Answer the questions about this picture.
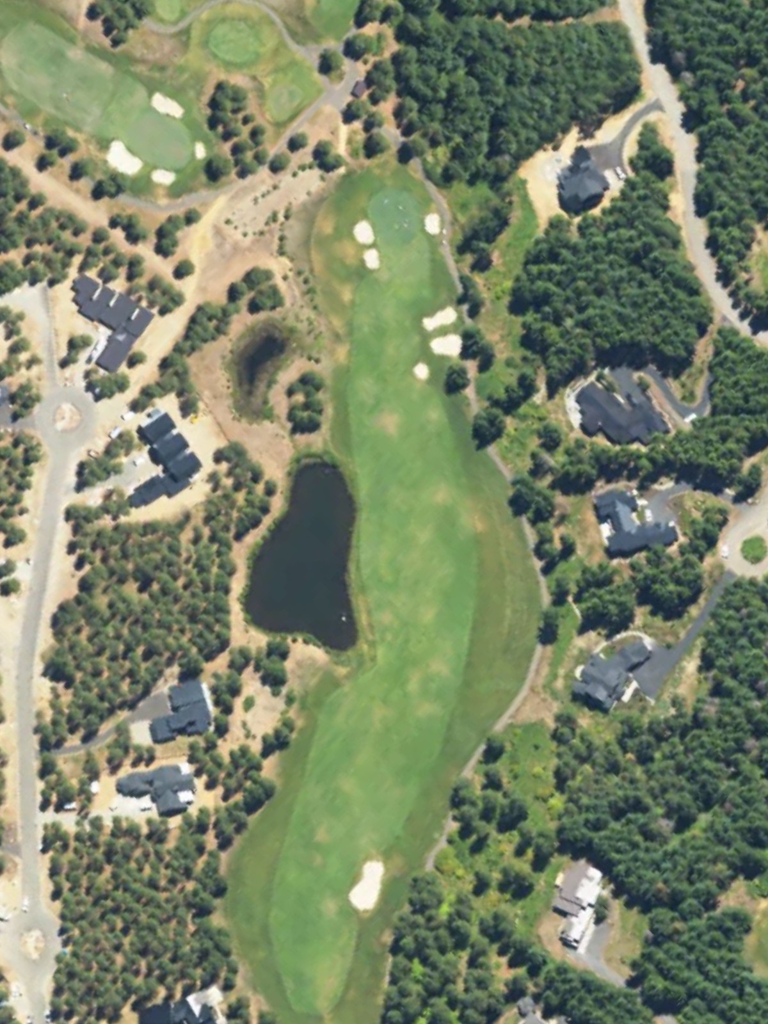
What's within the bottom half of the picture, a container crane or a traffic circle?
traffic circle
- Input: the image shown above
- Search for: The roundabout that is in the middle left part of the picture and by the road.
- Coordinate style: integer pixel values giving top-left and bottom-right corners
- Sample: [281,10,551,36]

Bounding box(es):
[36,386,100,447]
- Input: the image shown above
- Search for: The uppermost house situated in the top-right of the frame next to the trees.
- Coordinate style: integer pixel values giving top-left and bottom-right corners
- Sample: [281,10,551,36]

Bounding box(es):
[555,143,612,216]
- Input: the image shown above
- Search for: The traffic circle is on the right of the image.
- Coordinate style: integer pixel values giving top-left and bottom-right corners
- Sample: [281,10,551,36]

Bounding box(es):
[721,518,768,579]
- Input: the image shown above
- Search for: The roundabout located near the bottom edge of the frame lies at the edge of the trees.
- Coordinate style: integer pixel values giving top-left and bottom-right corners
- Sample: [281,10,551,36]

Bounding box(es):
[1,908,63,981]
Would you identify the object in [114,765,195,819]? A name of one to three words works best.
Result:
house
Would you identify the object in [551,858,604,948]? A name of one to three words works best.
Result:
house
